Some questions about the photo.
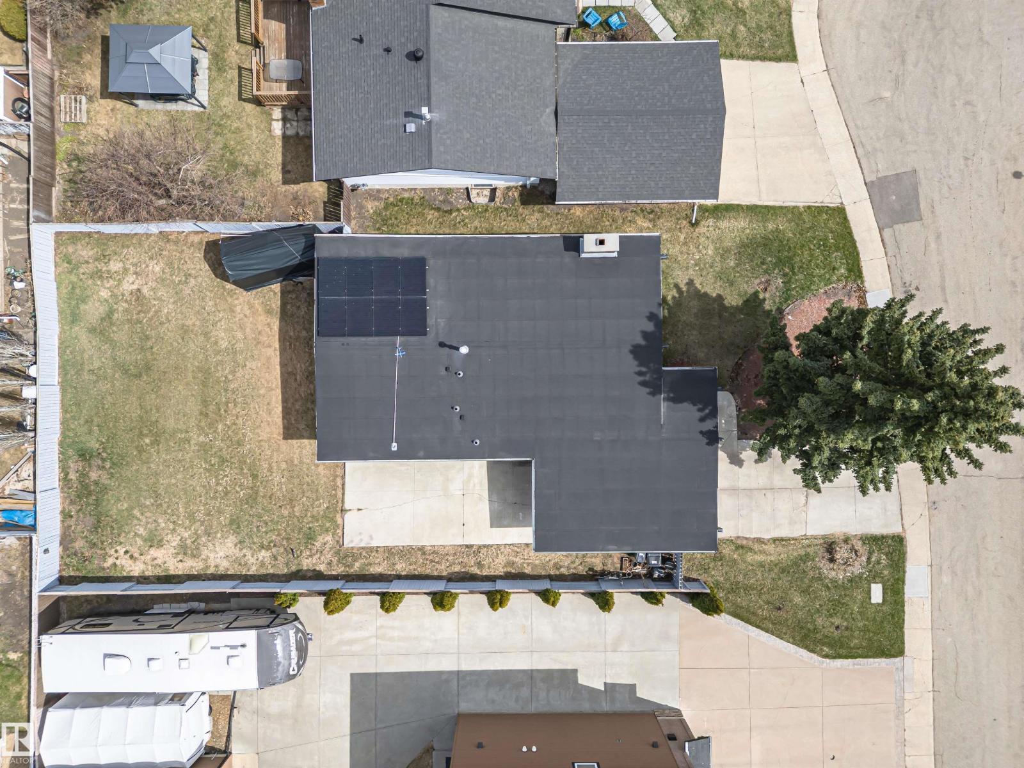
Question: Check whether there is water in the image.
No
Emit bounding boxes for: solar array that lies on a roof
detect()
[319,258,431,336]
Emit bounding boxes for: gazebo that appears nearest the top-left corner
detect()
[108,23,208,110]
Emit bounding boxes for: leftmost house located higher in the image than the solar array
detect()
[311,0,578,189]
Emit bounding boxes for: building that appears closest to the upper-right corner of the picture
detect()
[556,39,725,223]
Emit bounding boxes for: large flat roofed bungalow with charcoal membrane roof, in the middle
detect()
[316,232,721,553]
